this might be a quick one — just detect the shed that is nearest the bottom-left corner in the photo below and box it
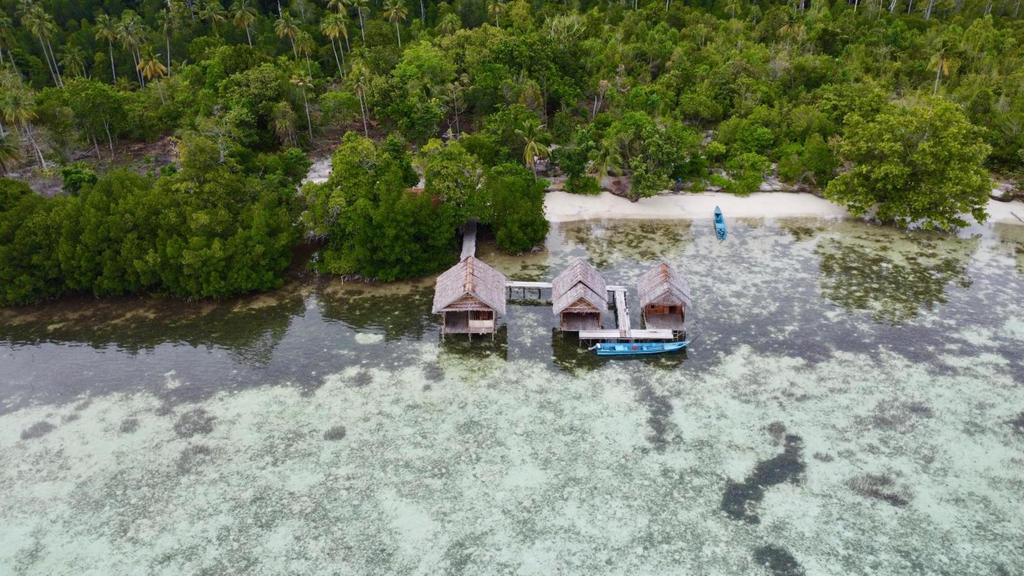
[429,253,508,346]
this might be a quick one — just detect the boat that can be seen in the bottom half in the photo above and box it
[585,341,689,356]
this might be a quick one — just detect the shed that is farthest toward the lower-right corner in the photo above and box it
[639,257,697,341]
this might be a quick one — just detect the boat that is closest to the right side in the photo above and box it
[714,201,728,244]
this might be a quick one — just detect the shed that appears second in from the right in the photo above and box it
[553,255,612,342]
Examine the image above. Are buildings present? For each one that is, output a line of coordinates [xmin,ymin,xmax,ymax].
[553,255,612,342]
[639,257,697,341]
[429,253,508,346]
